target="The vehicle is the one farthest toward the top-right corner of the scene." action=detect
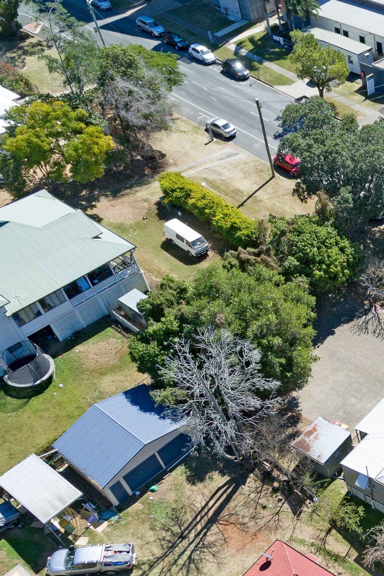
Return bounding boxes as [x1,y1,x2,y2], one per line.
[225,63,247,78]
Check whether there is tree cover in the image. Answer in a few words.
Yes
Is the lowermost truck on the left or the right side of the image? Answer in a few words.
left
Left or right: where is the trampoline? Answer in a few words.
left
